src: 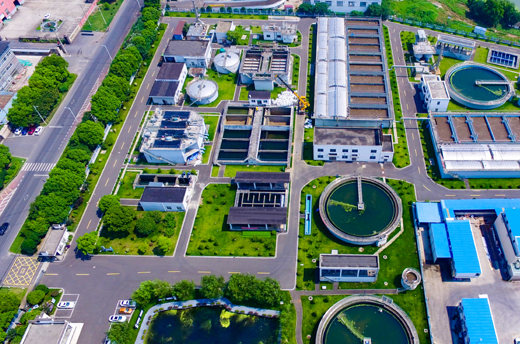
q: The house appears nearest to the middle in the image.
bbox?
[228,172,290,230]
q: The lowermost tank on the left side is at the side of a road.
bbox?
[187,72,221,109]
